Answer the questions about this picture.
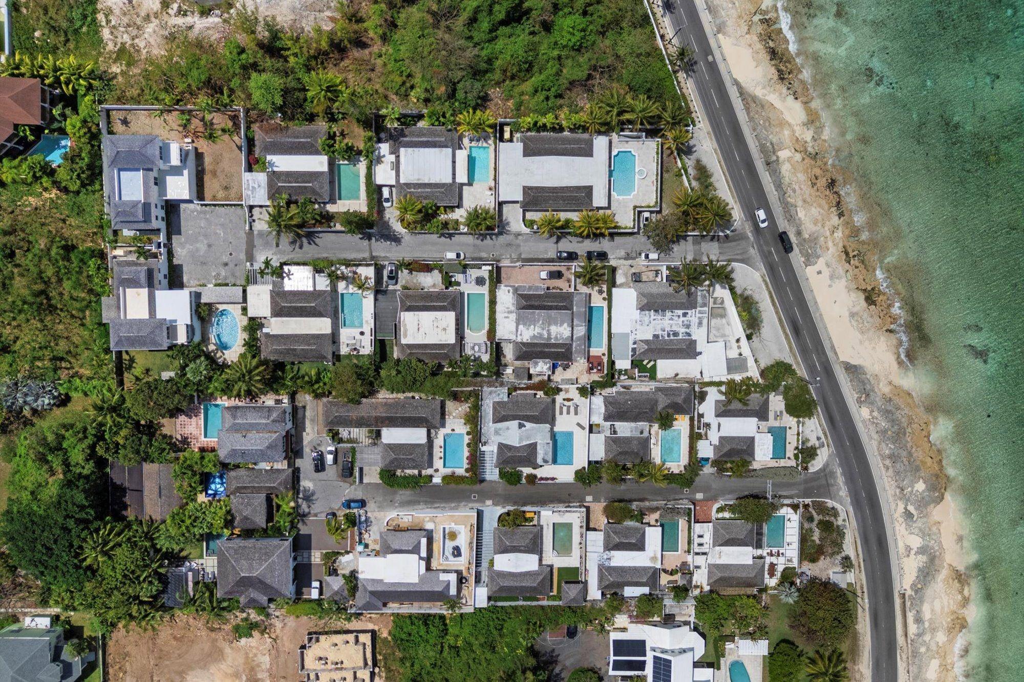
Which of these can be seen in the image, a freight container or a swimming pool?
swimming pool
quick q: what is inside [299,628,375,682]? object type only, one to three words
building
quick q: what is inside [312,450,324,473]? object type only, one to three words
vehicle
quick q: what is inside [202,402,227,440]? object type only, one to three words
swimming pool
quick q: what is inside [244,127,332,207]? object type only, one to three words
house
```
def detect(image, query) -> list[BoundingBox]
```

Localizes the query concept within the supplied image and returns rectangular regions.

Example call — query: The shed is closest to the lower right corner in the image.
[735,635,768,655]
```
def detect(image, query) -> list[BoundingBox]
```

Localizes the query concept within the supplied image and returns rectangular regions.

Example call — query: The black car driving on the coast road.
[777,230,793,254]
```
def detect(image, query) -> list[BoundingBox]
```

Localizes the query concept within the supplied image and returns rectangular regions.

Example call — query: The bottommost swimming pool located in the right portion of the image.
[727,659,750,682]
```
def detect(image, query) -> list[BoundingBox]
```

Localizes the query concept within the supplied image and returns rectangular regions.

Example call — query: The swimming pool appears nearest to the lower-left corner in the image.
[205,532,226,558]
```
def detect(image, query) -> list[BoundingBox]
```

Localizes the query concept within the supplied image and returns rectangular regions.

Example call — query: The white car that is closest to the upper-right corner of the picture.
[753,206,768,229]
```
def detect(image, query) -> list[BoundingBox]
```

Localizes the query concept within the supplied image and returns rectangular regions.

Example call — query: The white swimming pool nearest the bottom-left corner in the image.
[441,525,465,564]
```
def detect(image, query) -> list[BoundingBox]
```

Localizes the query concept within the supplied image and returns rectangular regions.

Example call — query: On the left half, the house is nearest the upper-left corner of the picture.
[0,77,58,159]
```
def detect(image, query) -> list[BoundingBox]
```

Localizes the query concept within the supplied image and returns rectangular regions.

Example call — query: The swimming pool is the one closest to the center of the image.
[464,291,488,336]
